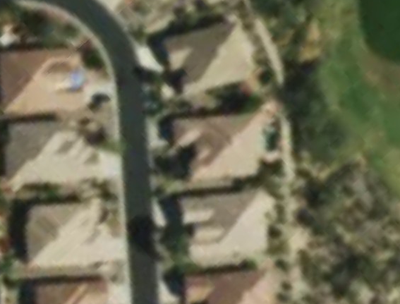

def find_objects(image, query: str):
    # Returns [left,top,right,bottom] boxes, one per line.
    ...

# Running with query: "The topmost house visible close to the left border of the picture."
[0,50,86,113]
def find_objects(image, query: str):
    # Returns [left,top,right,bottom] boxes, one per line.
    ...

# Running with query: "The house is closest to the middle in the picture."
[175,107,270,177]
